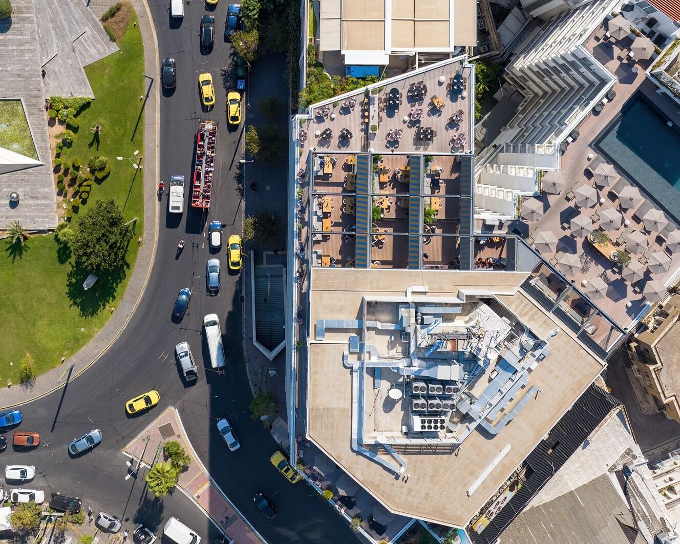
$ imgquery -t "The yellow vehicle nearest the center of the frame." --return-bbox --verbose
[226,235,248,269]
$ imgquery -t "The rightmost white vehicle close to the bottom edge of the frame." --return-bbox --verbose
[160,507,205,544]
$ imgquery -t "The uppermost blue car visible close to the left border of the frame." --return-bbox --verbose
[0,410,24,429]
